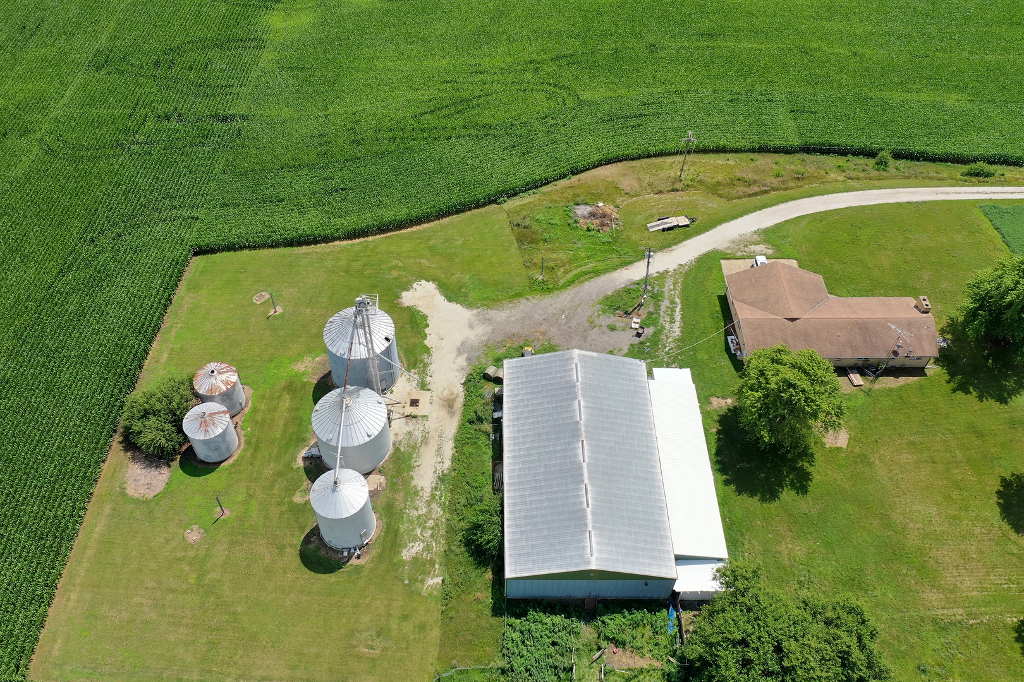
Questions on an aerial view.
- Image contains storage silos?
Yes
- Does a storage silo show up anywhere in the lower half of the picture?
Yes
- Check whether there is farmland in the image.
Yes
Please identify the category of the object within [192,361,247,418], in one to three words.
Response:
silo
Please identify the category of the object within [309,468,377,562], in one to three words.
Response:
silo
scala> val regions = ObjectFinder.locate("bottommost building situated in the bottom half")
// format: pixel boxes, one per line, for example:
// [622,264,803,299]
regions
[504,349,729,600]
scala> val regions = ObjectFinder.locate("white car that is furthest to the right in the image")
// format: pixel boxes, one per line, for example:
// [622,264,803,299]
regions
[750,253,769,267]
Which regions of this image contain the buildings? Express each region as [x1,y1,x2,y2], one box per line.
[724,261,940,369]
[504,349,729,600]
